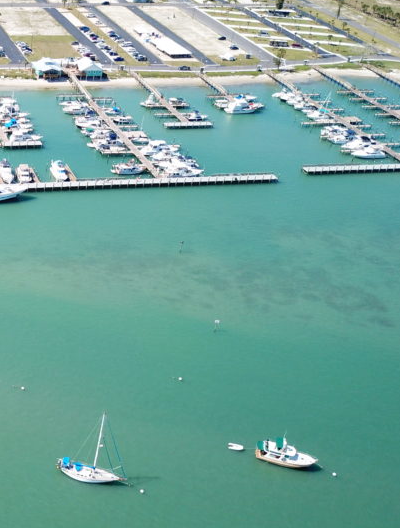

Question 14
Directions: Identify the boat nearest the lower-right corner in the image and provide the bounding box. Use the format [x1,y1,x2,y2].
[254,434,330,472]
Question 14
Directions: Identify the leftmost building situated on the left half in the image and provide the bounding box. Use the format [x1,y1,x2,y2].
[28,59,67,80]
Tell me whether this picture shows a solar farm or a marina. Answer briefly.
marina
